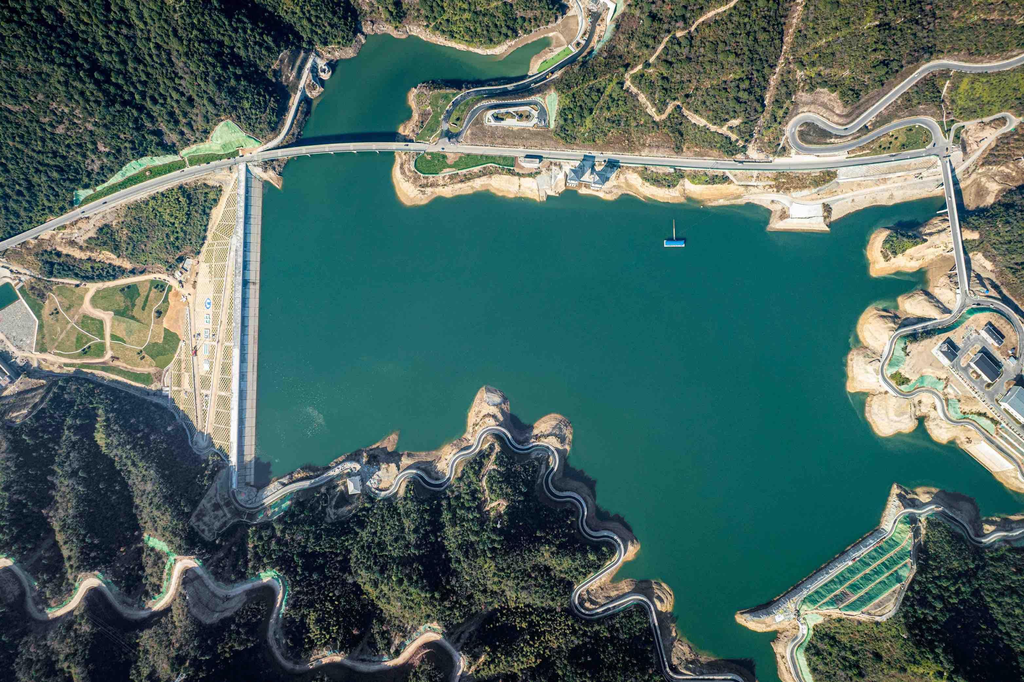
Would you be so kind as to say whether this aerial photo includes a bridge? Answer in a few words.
Yes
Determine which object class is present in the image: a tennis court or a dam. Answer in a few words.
dam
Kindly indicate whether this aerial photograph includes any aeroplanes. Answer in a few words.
No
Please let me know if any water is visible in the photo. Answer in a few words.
Yes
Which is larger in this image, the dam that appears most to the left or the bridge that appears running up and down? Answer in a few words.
the dam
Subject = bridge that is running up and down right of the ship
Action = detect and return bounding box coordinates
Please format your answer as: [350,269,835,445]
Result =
[935,150,972,296]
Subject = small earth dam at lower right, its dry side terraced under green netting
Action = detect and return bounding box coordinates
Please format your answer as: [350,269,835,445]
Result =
[743,515,912,618]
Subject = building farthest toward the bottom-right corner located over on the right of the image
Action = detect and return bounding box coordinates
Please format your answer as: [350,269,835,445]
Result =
[994,387,1024,431]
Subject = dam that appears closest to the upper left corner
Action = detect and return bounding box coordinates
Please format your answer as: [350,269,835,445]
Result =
[171,165,263,489]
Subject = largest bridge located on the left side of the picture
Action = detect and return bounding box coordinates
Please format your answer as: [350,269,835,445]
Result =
[238,141,427,166]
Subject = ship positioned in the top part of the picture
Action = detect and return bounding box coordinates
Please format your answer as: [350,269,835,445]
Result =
[664,220,685,246]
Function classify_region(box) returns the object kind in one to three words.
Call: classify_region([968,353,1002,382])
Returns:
building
